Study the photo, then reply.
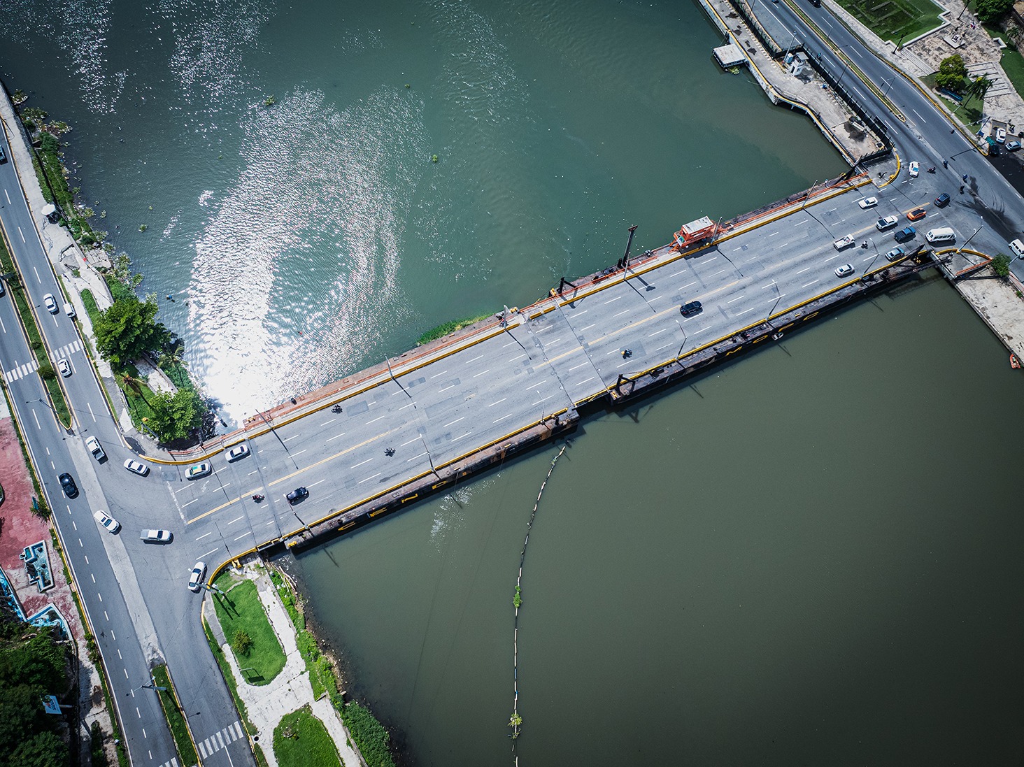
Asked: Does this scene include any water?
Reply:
Yes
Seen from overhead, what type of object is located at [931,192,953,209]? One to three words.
car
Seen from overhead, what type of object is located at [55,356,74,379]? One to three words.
car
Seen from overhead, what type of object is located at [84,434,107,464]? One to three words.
truck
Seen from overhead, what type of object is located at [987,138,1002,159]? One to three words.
vehicle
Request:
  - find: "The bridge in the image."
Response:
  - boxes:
[162,170,933,552]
